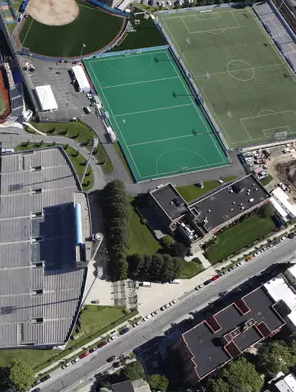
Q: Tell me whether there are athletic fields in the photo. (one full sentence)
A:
Yes, an athletic field appears in the view.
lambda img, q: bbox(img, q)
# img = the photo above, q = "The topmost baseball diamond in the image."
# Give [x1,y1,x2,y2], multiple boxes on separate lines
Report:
[20,0,125,57]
